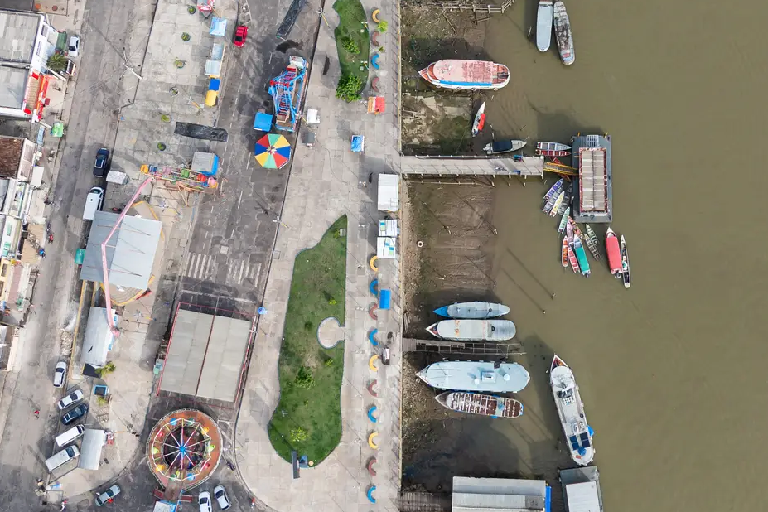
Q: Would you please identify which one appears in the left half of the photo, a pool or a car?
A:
car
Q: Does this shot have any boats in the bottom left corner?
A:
No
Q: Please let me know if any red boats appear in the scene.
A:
Yes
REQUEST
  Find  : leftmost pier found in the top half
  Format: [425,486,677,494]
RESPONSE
[401,156,544,179]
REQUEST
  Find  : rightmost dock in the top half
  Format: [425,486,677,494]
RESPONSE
[573,136,613,223]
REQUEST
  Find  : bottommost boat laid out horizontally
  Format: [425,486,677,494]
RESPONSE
[434,391,523,421]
